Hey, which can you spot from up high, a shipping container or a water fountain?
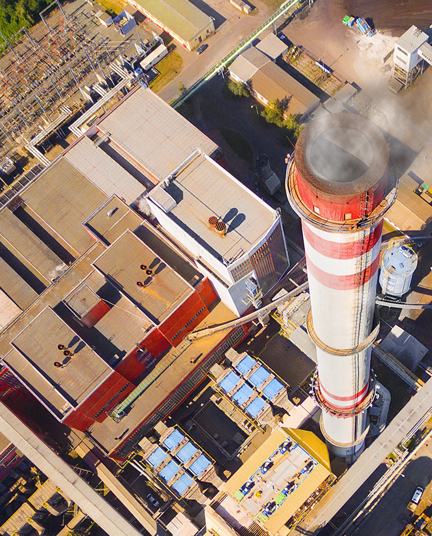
shipping container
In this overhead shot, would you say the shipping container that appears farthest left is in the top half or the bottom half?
top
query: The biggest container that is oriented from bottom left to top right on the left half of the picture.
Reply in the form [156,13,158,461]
[140,46,169,72]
